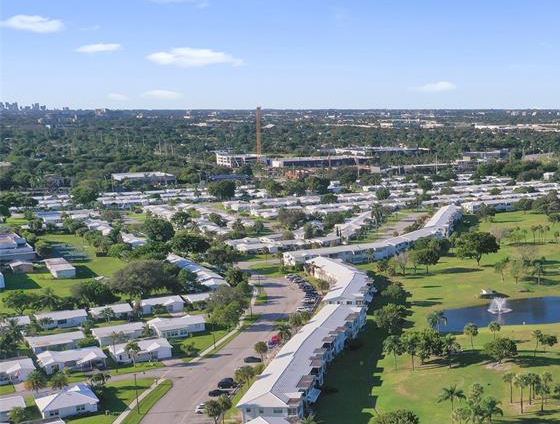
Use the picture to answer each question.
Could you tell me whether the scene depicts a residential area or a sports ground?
residential area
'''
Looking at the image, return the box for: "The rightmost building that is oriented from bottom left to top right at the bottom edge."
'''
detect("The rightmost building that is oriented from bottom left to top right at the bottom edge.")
[234,304,362,424]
